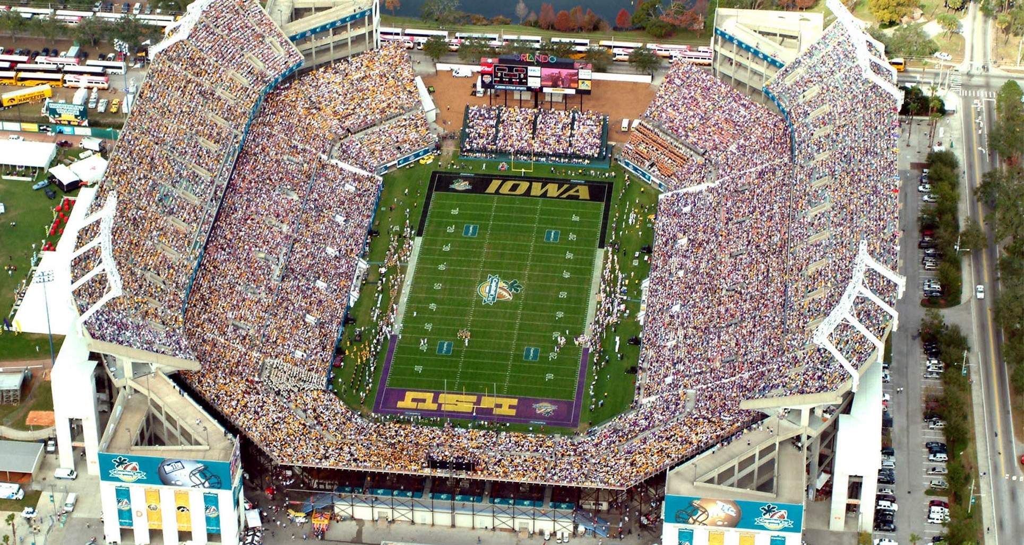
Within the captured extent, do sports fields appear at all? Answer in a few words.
Yes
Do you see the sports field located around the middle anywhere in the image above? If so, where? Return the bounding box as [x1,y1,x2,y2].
[388,192,604,389]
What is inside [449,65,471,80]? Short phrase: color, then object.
white vehicle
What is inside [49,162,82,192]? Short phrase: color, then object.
white tent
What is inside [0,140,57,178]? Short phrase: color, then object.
white tent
